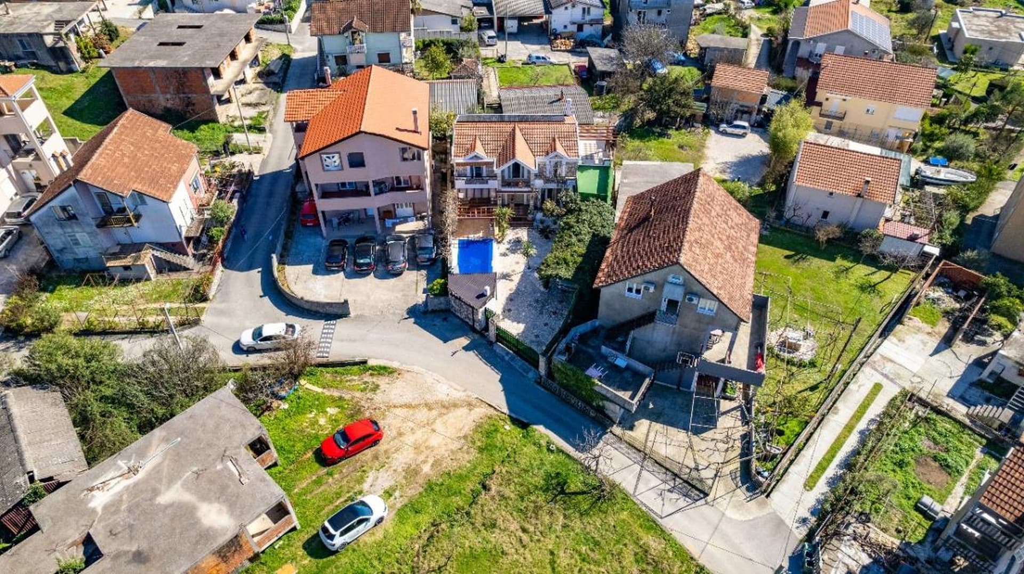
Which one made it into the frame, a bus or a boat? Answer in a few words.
boat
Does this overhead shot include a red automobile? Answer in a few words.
Yes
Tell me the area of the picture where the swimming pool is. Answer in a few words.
center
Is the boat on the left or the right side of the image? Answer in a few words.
right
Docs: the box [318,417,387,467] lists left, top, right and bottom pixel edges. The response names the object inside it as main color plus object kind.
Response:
red car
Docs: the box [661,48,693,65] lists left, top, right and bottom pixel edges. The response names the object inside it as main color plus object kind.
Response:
blue car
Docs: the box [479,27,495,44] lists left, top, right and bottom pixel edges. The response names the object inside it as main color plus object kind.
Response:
gray car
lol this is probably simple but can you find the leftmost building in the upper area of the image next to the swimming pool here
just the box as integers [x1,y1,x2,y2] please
[284,58,433,240]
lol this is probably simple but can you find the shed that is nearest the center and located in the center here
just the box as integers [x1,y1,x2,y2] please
[448,273,497,335]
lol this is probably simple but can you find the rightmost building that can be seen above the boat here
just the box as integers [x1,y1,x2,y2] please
[923,3,1024,68]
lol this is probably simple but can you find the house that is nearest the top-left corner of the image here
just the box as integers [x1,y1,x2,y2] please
[0,0,120,67]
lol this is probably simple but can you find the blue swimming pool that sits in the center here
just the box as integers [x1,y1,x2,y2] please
[447,236,497,290]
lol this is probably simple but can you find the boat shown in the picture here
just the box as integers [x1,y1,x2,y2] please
[910,161,987,188]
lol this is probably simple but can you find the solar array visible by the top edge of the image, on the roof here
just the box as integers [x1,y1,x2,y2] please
[856,2,891,47]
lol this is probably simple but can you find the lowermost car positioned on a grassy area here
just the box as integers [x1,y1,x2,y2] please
[315,493,394,555]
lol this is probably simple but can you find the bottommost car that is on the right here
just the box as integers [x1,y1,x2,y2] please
[715,116,756,137]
